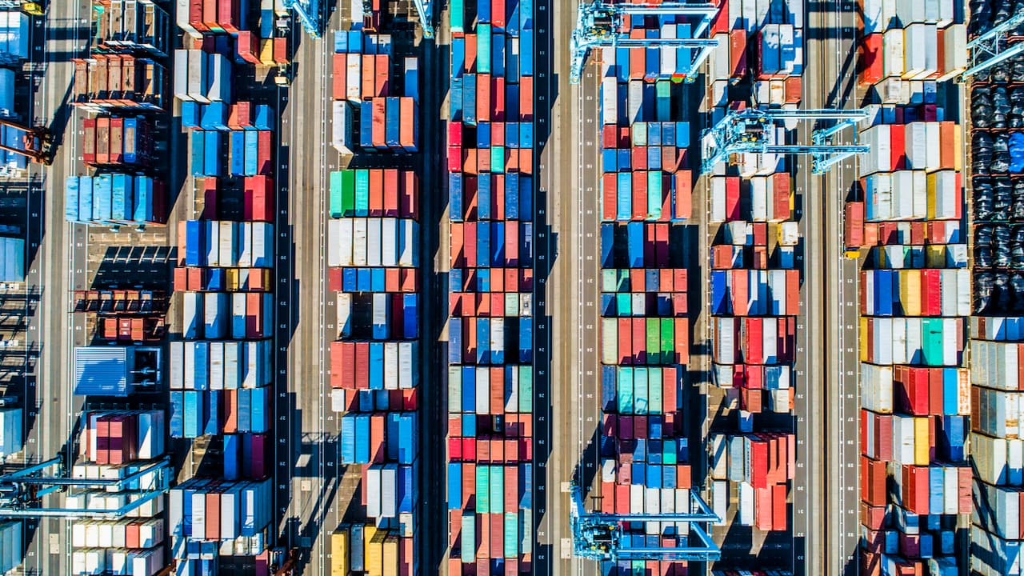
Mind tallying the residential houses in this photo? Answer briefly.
1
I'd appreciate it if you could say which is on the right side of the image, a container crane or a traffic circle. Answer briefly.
container crane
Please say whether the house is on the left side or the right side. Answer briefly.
left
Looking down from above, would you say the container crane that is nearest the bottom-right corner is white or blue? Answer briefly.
blue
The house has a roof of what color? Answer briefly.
blue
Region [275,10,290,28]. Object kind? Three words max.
vehicle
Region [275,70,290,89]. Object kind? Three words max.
vehicle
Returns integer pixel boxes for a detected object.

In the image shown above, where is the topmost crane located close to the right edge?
[962,11,1024,86]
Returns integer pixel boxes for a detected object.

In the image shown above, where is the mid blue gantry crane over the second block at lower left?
[0,448,168,535]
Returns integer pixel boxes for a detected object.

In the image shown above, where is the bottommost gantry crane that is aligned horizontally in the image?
[121,545,296,576]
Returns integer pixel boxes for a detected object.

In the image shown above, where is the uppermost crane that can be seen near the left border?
[0,112,50,169]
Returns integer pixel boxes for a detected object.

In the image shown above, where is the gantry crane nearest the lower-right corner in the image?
[567,478,725,573]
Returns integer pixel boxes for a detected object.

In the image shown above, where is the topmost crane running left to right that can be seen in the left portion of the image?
[271,0,431,43]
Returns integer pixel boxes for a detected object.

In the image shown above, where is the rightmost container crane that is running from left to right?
[700,97,875,175]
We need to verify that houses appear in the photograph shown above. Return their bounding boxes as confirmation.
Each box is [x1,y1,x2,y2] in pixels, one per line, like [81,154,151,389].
[72,350,134,395]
